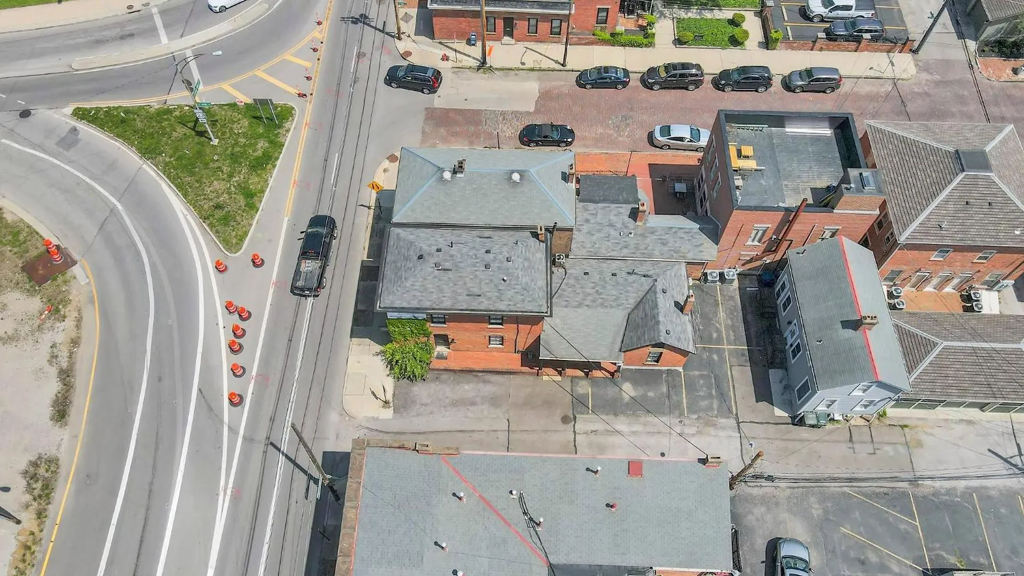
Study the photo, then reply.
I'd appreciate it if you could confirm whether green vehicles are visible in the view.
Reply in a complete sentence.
No, there appears to be no green vehicle in this shot.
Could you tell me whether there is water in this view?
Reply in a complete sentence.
No, no water is visible.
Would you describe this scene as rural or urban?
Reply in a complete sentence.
The area shown here is urban.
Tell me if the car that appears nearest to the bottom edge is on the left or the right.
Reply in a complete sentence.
The car that appears nearest to the bottom edge is on the right side of the image.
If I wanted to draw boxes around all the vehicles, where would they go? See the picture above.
[716,64,776,93]
[519,121,575,148]
[644,61,706,91]
[653,123,709,153]
[776,539,821,576]
[383,63,444,95]
[578,64,633,90]
[830,14,889,39]
[291,218,338,293]
[805,0,877,22]
[785,65,844,94]
[204,0,252,13]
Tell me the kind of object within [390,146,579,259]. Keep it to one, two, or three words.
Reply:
house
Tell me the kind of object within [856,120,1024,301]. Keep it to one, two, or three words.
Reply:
building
